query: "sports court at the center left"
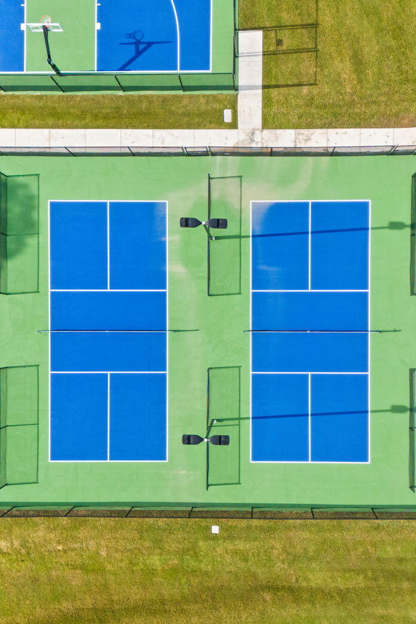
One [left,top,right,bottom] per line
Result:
[48,200,167,463]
